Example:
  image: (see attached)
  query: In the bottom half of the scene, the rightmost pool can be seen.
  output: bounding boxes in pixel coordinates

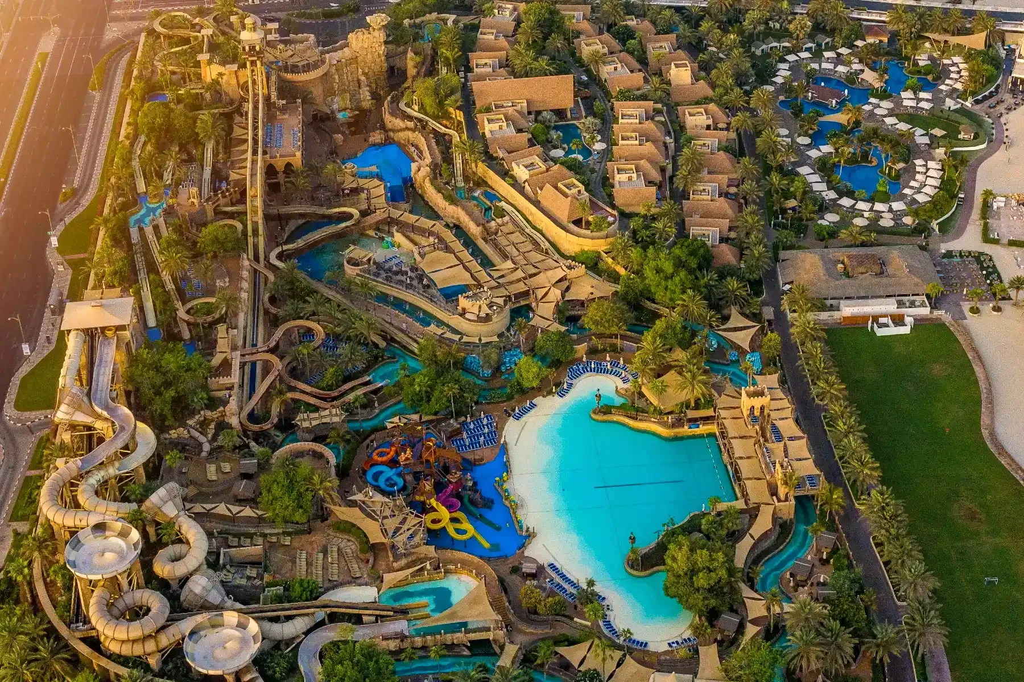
[505,373,737,653]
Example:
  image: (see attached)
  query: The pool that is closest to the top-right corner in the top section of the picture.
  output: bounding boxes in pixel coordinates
[872,57,937,95]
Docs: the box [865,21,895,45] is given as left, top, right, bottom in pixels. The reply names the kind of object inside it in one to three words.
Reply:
building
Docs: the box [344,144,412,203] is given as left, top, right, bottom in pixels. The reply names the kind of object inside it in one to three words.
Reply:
swimming pool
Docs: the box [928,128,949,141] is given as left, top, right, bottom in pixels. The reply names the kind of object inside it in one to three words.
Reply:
umbrella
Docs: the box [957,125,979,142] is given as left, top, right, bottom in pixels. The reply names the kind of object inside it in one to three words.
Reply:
gazebo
